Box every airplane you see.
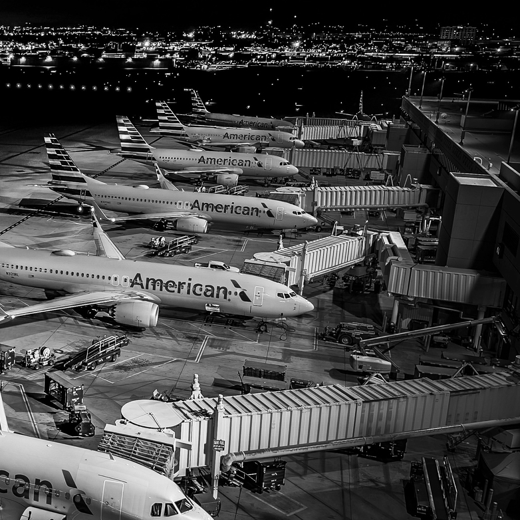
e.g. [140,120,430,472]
[0,208,312,333]
[109,117,297,187]
[176,89,290,130]
[151,102,303,153]
[22,132,314,237]
[0,368,213,520]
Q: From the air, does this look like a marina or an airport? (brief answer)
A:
airport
